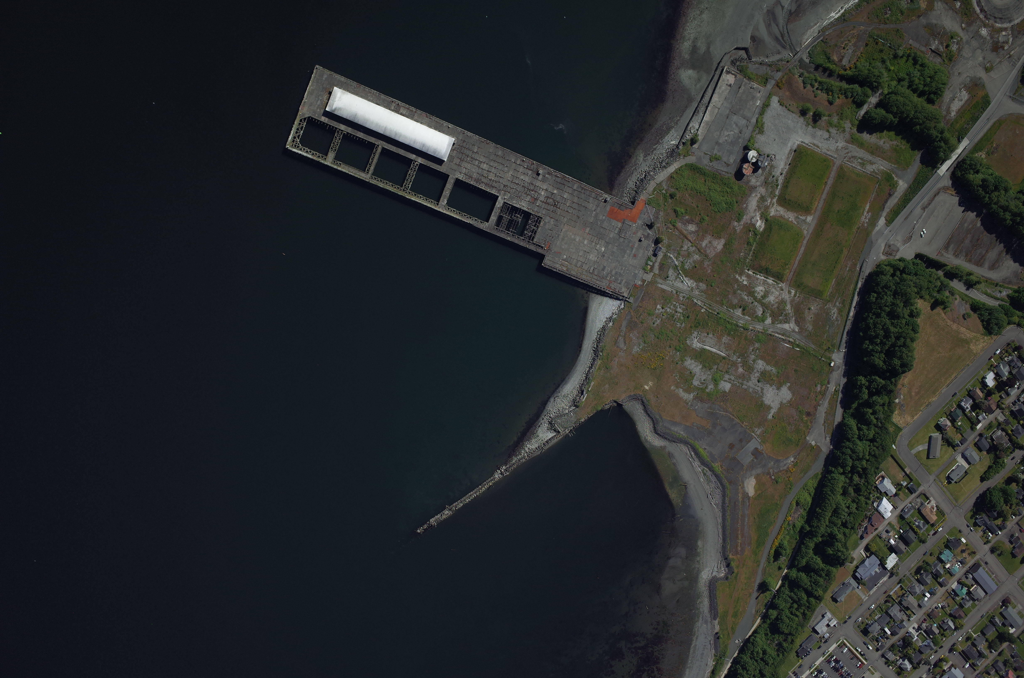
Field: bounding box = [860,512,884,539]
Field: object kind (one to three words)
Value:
house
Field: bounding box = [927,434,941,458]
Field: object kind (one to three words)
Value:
house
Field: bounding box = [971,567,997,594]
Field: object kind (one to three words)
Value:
building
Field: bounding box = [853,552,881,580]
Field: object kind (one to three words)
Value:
building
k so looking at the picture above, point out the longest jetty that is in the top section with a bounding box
[287,65,657,300]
